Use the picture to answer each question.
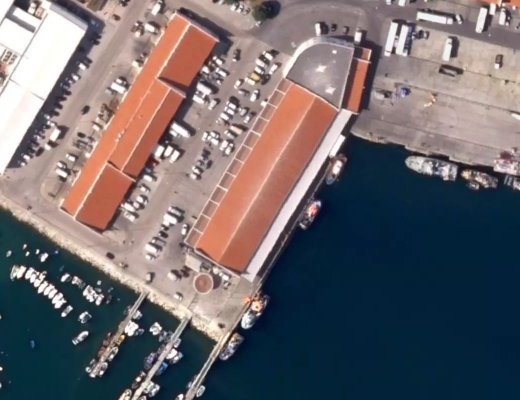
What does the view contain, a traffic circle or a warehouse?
warehouse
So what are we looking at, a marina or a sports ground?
marina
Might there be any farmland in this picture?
No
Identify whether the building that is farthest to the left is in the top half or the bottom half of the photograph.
top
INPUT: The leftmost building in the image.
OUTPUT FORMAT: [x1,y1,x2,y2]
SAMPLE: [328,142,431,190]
[0,0,88,171]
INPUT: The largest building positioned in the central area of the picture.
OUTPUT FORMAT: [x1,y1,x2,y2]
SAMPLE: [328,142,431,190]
[184,37,371,282]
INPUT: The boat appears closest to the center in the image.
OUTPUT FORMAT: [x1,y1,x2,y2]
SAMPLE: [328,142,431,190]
[300,202,319,229]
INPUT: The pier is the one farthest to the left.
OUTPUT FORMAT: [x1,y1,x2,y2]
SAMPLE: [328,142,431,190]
[89,287,150,377]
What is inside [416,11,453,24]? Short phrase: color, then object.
white vehicle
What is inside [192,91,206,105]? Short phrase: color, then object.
white vehicle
